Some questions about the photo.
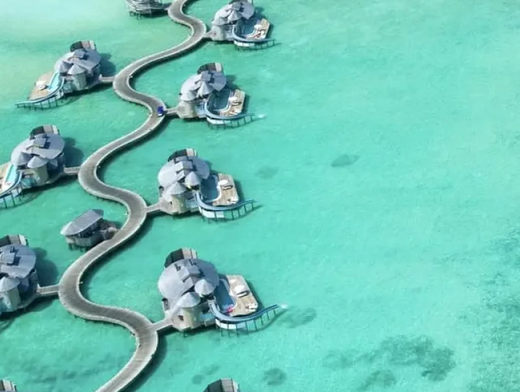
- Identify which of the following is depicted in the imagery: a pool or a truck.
pool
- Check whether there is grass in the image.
No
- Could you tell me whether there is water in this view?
Yes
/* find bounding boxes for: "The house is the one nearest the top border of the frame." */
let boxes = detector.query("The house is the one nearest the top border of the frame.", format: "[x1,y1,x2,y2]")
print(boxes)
[213,0,291,52]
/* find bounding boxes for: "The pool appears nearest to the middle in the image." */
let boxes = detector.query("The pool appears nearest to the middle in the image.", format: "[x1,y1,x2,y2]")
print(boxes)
[204,173,225,204]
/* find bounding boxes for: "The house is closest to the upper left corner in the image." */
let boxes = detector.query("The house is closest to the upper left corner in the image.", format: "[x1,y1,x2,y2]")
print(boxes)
[26,43,106,114]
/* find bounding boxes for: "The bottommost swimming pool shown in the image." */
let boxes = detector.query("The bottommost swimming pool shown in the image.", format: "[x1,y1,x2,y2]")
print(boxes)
[212,276,236,316]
